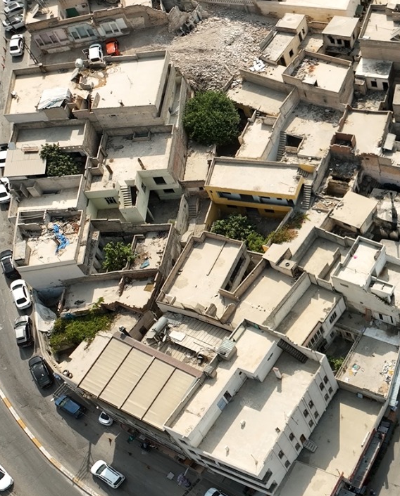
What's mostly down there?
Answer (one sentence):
The bulk of the photo consists of buildings.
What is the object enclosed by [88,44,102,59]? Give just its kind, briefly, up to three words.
car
